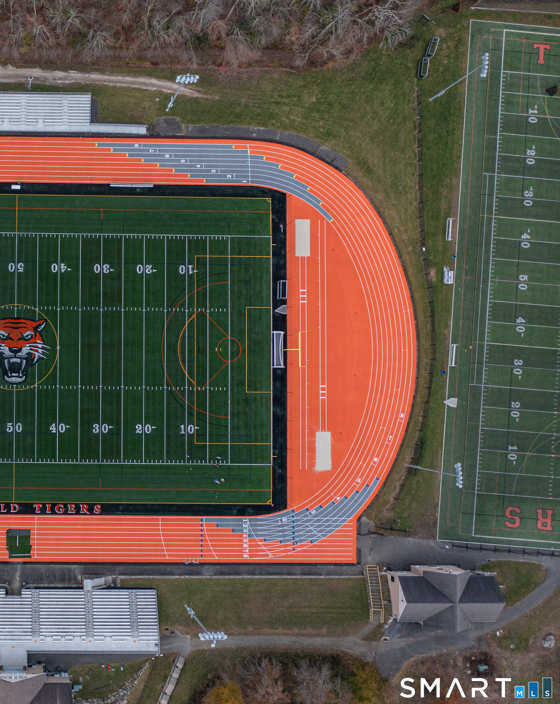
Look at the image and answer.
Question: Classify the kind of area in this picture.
sports ground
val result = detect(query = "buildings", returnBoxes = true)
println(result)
[388,565,505,634]
[0,662,72,704]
